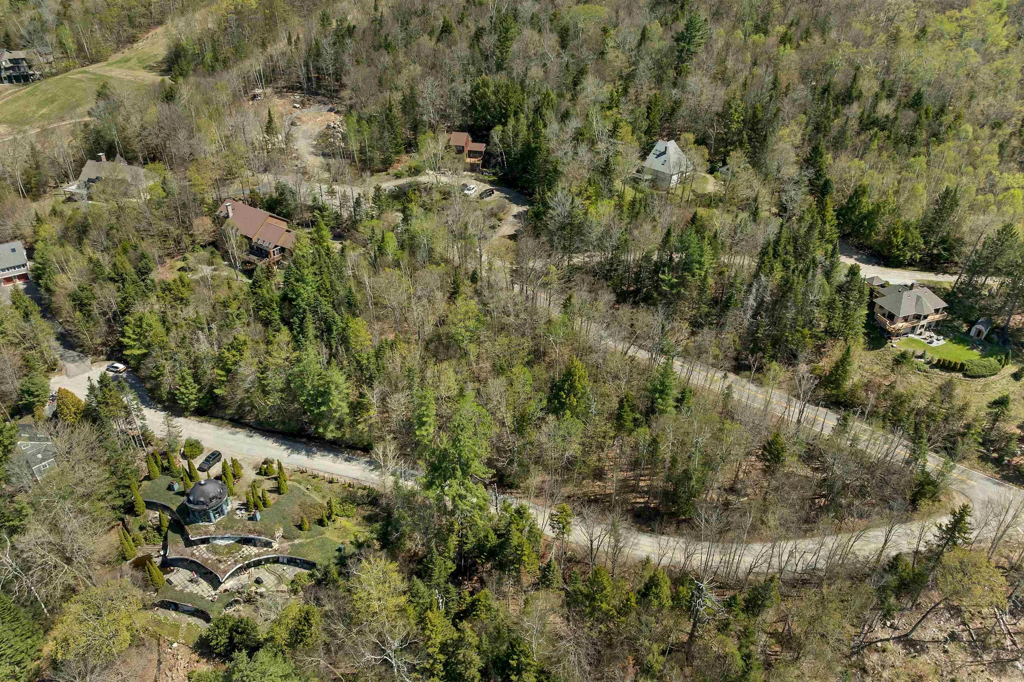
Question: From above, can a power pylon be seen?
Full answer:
No, the scene contains no power pylon.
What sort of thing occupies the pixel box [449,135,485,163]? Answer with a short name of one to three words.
building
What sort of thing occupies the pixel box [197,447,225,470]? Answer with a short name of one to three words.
car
